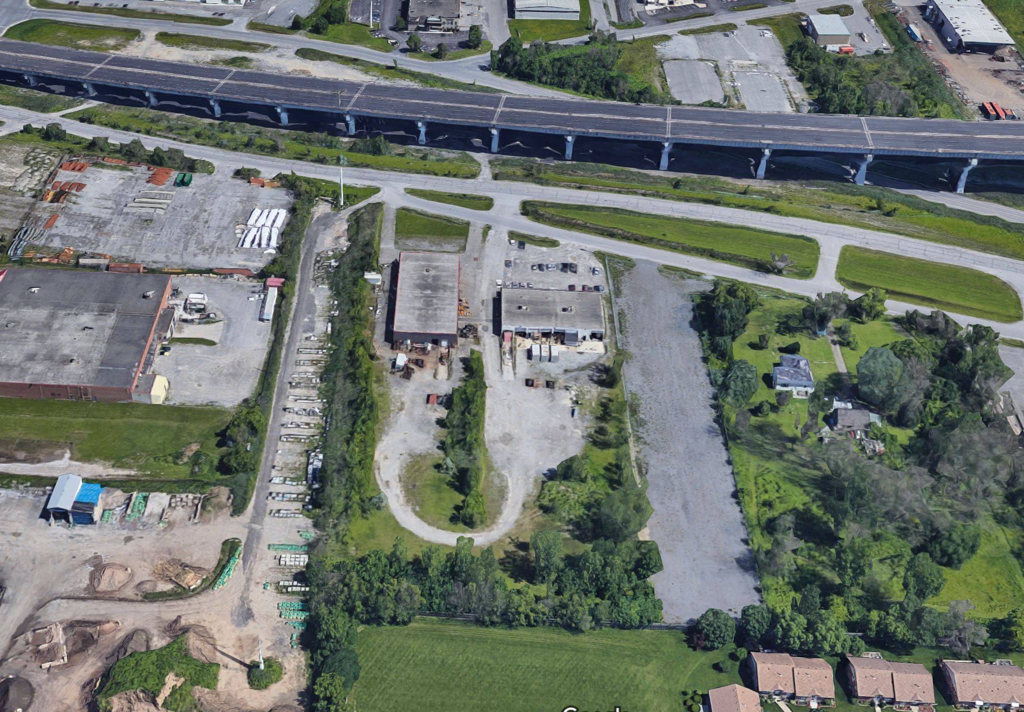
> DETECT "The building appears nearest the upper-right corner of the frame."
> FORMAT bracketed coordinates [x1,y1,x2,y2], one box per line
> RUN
[918,0,1016,61]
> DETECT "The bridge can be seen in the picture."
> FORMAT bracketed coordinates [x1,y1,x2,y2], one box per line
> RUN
[0,45,1024,190]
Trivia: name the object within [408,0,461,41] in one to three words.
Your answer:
building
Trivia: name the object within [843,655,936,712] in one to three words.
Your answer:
house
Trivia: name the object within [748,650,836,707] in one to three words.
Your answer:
house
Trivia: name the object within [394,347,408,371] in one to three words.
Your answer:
vehicle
